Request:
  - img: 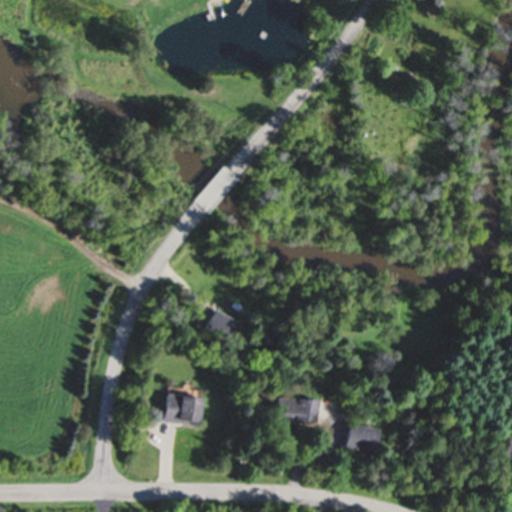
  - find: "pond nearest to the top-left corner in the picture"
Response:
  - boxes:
[156,0,315,88]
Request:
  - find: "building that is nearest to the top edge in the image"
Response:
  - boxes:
[208,308,234,334]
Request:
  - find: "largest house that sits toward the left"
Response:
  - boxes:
[166,394,205,424]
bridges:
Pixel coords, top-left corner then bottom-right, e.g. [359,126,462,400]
[188,166,238,222]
